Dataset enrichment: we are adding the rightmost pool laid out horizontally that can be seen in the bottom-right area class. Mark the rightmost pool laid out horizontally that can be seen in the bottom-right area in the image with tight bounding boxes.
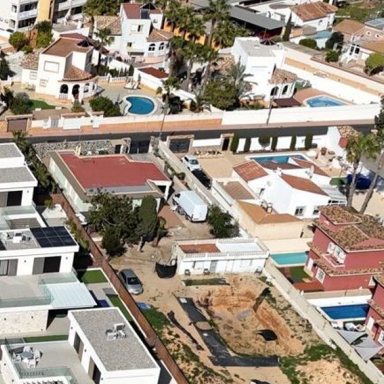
[319,303,371,321]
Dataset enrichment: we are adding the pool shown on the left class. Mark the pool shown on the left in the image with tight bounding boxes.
[125,94,157,112]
